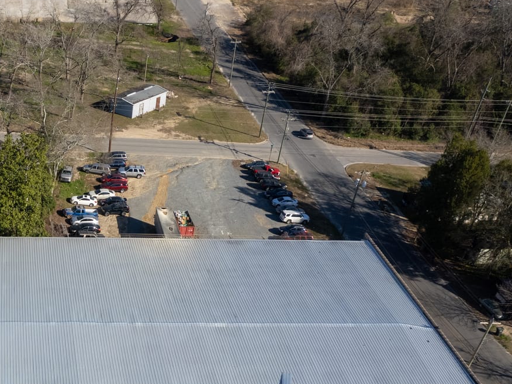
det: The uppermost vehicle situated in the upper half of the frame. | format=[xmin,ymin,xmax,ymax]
[296,124,317,140]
